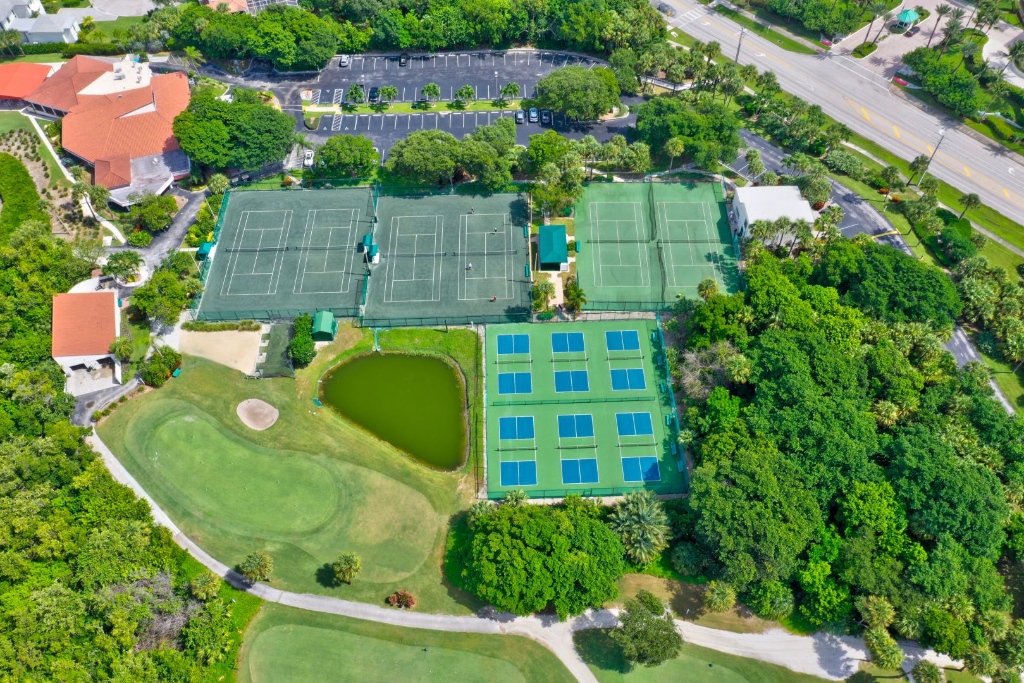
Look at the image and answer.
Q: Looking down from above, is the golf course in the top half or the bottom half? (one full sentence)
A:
Seen from above, the golf course lies in the bottom half of the view.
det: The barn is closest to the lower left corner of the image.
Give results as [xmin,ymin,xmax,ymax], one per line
[52,292,123,393]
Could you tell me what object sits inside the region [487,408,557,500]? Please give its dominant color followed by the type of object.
green sports court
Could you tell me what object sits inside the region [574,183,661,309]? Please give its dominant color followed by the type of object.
green tennis court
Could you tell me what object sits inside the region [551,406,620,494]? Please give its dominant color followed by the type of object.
green sports court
